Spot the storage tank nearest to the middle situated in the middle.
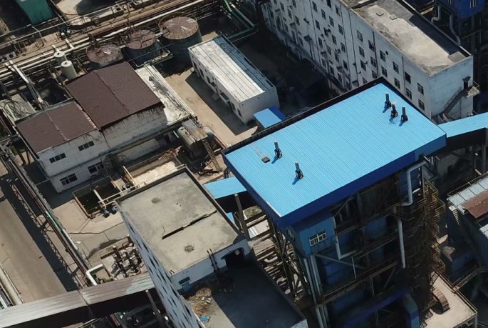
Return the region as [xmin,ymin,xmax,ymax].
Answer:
[183,124,214,170]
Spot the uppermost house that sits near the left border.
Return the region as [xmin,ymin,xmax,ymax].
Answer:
[11,59,175,187]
